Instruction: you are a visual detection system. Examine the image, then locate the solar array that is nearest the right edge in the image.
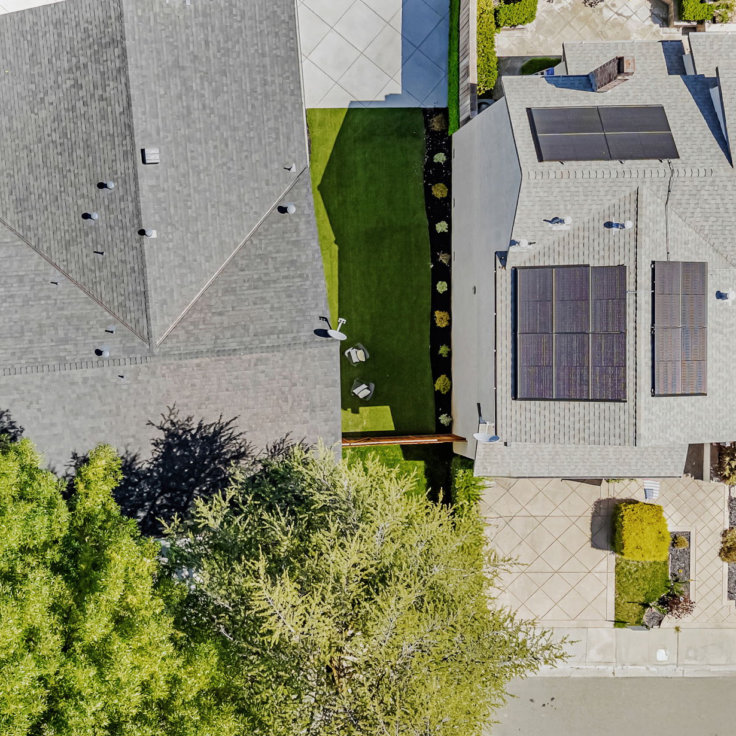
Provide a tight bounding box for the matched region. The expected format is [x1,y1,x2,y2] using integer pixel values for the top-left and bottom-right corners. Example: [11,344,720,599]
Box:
[649,261,707,395]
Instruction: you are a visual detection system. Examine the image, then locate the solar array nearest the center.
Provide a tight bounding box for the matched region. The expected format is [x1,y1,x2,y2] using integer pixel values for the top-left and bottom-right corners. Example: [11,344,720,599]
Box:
[513,267,627,407]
